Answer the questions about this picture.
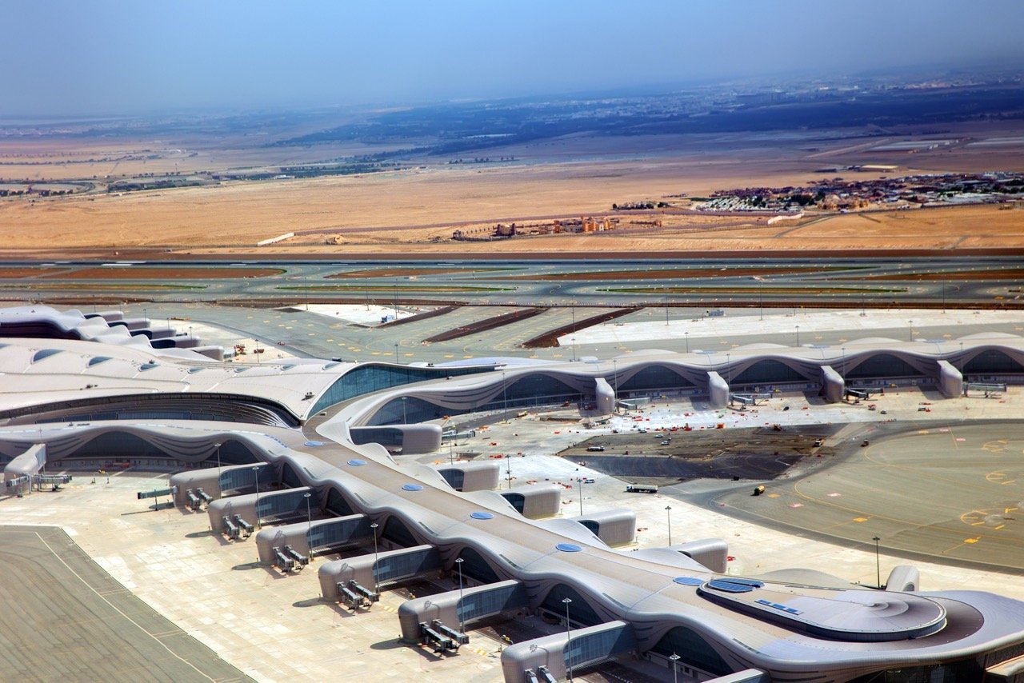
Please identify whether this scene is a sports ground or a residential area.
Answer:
residential area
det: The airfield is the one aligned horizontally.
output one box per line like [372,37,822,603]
[0,247,1024,683]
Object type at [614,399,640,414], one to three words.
jet bridge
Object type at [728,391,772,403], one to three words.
jet bridge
